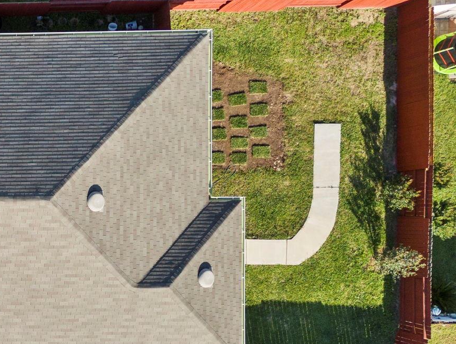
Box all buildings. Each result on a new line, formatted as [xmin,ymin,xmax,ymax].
[0,27,247,344]
[428,0,456,16]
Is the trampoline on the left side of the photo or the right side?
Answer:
right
